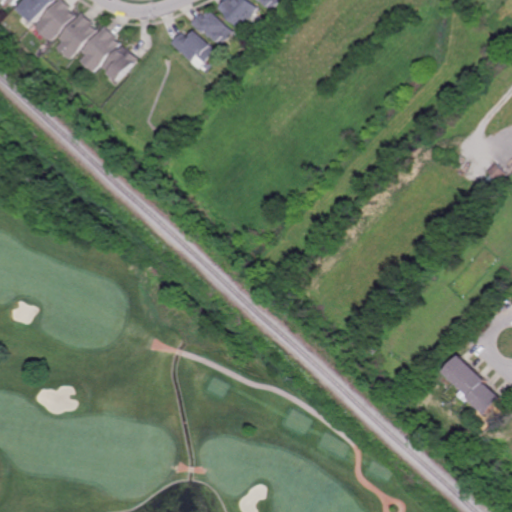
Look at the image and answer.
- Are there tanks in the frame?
No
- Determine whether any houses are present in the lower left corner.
No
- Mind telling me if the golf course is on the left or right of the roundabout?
on its left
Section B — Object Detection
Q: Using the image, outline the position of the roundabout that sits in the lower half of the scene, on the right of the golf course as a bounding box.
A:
[480,304,512,380]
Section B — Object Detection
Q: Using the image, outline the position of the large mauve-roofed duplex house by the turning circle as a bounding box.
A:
[438,353,500,415]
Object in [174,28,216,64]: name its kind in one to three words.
house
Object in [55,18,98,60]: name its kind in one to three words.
house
